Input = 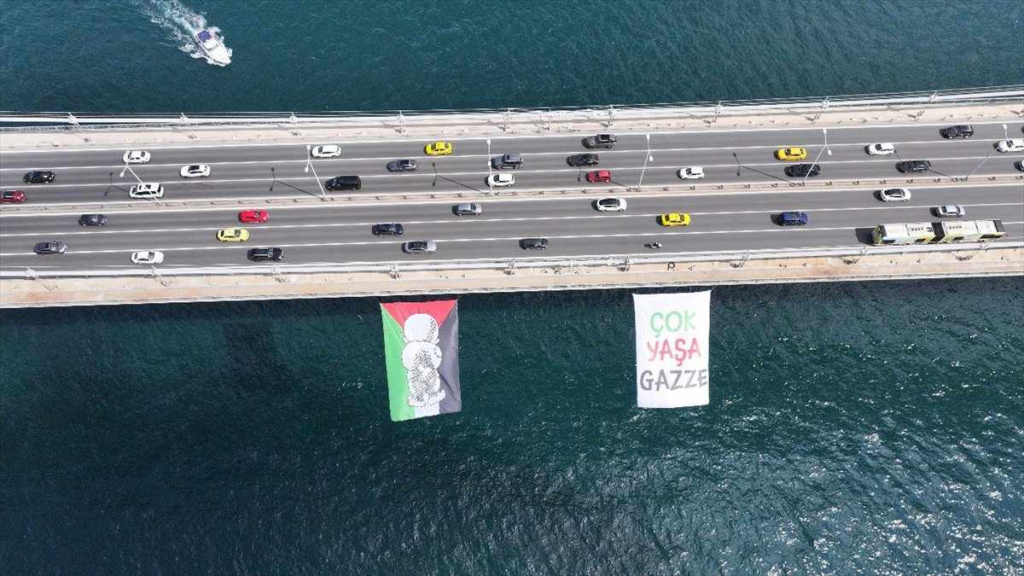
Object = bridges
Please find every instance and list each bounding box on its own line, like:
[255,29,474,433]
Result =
[0,85,1024,309]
